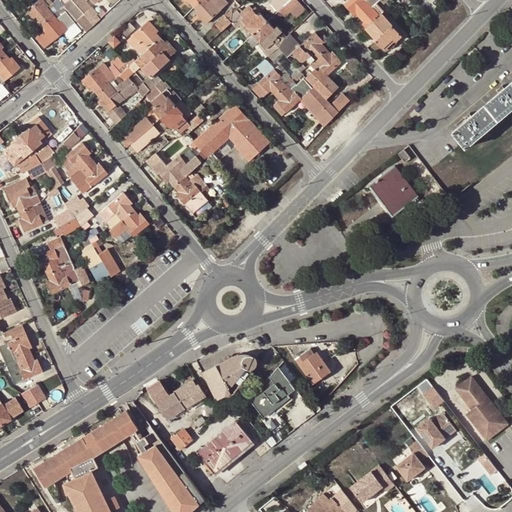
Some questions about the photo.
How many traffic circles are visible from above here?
2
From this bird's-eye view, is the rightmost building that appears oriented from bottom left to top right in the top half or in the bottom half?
top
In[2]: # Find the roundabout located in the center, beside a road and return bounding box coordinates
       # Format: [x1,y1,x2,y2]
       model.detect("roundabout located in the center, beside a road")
[198,267,264,334]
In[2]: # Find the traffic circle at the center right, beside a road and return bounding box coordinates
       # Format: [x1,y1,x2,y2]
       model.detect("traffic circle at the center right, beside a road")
[406,254,486,336]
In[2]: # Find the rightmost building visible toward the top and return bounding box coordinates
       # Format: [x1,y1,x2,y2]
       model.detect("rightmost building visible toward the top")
[452,88,512,150]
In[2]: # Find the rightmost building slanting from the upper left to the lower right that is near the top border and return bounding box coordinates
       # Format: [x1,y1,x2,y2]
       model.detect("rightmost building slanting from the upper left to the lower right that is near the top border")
[347,0,402,52]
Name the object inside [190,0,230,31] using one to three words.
house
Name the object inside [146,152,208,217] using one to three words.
house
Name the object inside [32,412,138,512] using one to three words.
building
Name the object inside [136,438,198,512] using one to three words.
building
